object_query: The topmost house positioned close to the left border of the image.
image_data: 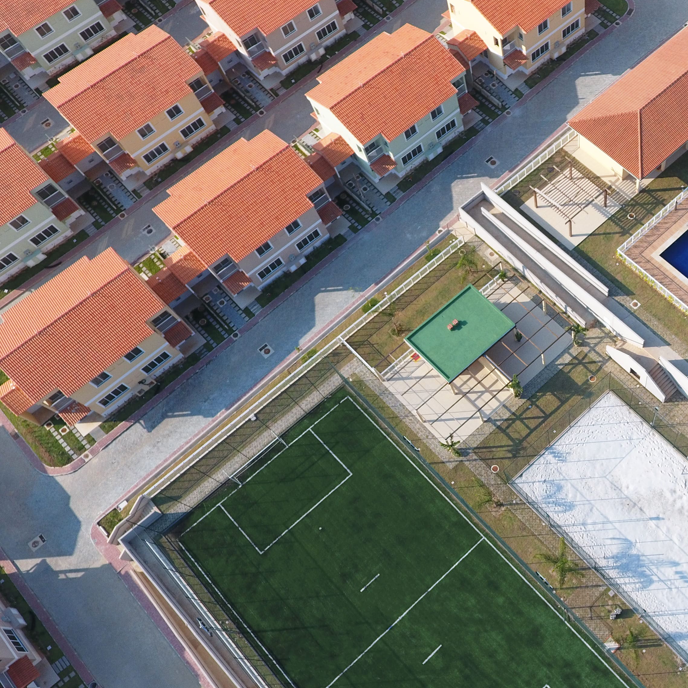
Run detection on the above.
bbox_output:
[0,0,140,92]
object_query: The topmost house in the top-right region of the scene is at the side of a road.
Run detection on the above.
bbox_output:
[440,0,608,94]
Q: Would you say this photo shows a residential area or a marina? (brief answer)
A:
residential area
